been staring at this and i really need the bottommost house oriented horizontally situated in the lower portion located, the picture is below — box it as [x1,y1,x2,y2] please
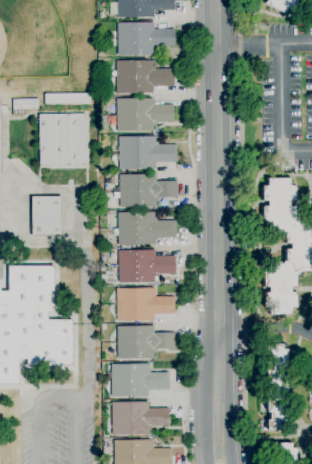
[113,440,171,464]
